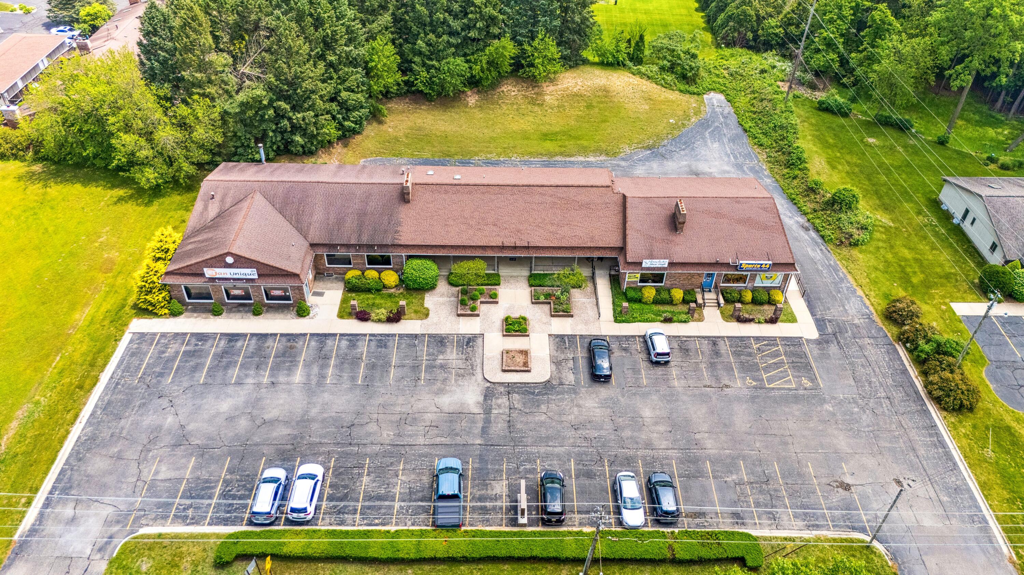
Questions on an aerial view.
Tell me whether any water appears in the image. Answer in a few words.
No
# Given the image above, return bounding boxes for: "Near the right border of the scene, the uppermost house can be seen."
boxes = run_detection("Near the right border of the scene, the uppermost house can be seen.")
[938,175,1024,263]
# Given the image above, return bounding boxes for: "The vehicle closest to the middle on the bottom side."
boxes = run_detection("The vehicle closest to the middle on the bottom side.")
[589,339,614,382]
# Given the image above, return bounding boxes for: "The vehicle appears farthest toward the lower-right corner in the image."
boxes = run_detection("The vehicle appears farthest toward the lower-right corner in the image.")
[648,473,681,523]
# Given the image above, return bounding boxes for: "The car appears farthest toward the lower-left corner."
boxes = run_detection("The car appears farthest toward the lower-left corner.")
[251,469,288,524]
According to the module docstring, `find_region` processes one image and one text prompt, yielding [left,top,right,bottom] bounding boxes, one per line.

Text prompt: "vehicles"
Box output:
[644,329,672,364]
[589,339,614,382]
[539,471,568,526]
[288,465,324,522]
[251,469,288,524]
[614,471,646,530]
[48,24,83,39]
[434,457,464,528]
[648,473,681,523]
